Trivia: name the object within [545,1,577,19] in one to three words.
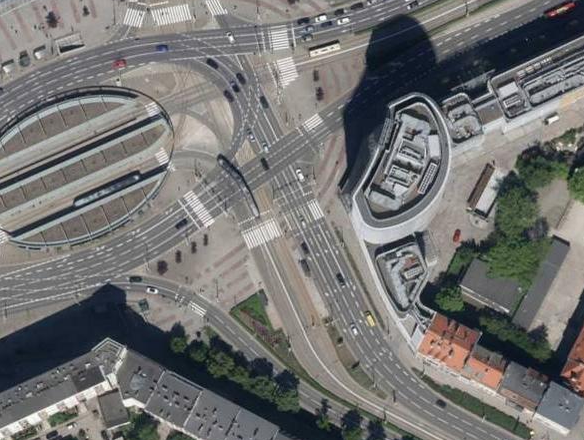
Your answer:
vehicle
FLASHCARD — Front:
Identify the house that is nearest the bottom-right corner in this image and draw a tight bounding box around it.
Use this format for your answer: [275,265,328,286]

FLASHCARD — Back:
[534,381,584,434]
